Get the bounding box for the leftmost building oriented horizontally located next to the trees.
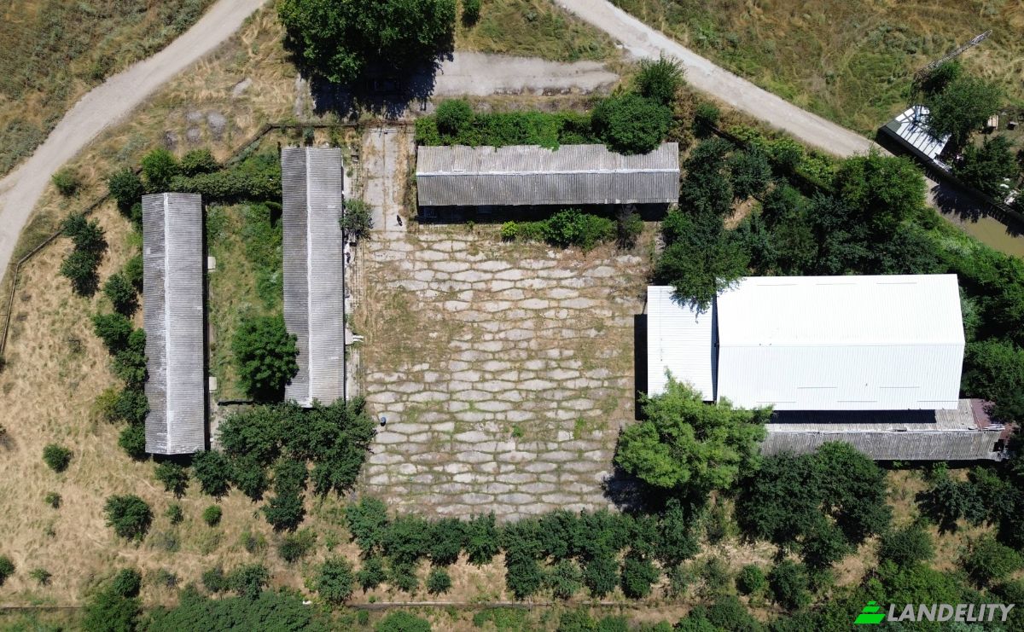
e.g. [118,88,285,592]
[416,143,683,206]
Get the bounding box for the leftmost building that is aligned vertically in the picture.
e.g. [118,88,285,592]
[141,191,213,457]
